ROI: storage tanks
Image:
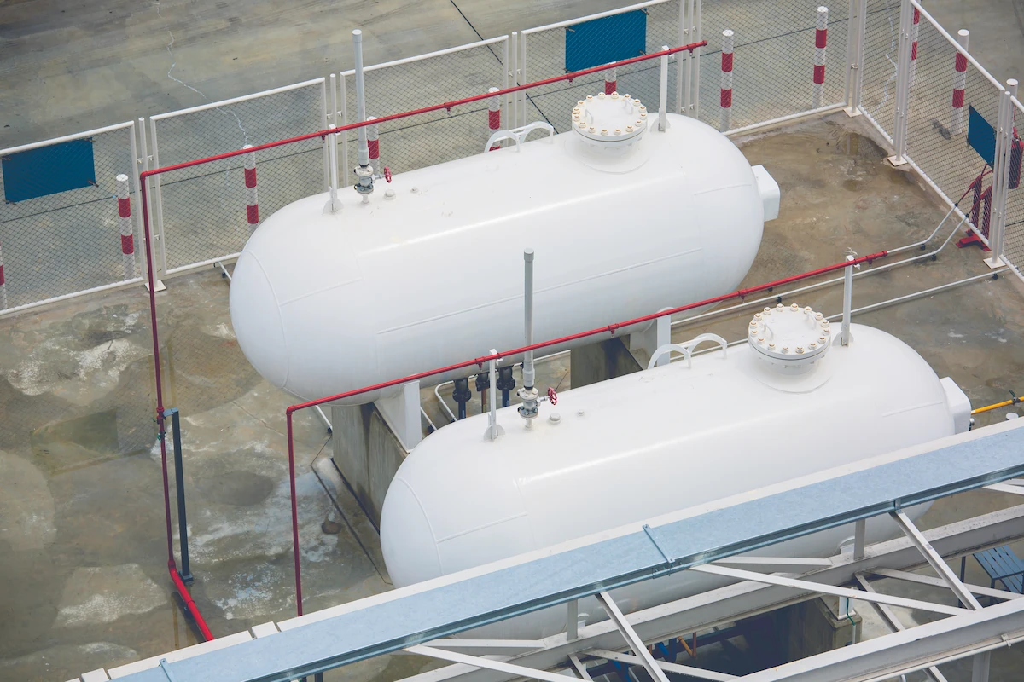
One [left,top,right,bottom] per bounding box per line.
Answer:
[379,248,971,682]
[230,30,781,451]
